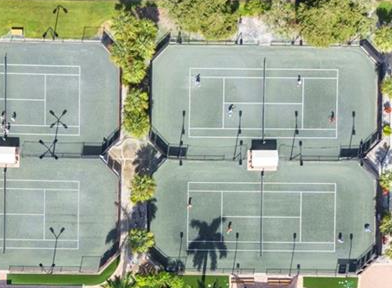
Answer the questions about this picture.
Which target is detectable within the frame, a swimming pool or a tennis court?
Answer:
tennis court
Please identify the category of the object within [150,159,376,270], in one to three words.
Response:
tennis court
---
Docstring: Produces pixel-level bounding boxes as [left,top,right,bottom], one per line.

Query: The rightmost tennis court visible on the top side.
[150,45,377,158]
